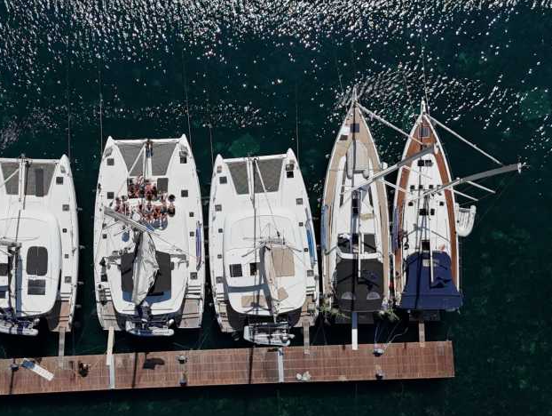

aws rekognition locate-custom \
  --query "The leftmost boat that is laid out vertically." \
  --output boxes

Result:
[0,150,79,330]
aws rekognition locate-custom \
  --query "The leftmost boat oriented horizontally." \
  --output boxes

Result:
[0,316,46,341]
